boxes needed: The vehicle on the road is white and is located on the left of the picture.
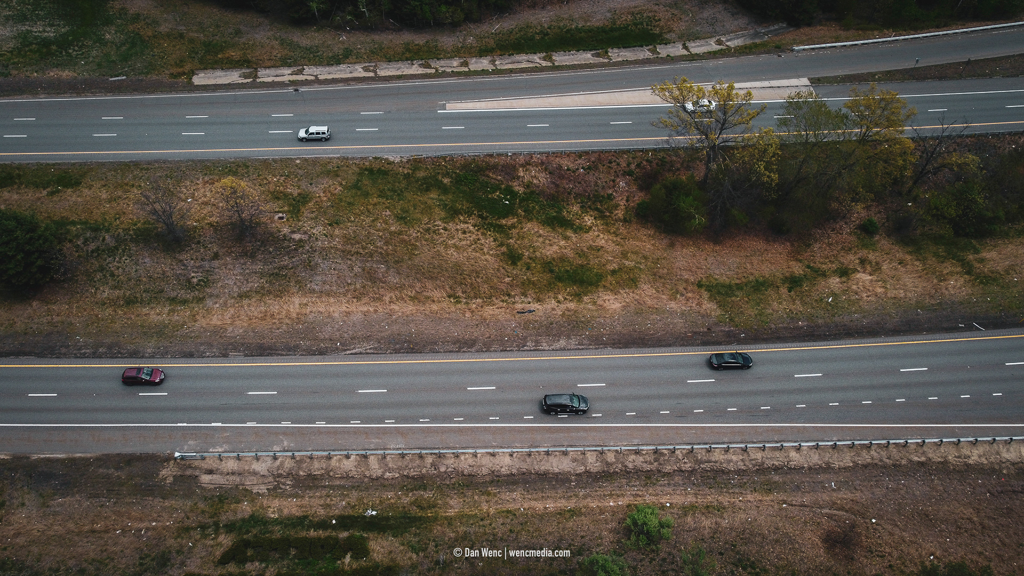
[297,125,330,142]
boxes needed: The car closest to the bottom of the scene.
[542,391,590,415]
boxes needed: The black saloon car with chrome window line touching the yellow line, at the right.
[709,348,754,369]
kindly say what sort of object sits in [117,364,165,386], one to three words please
car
